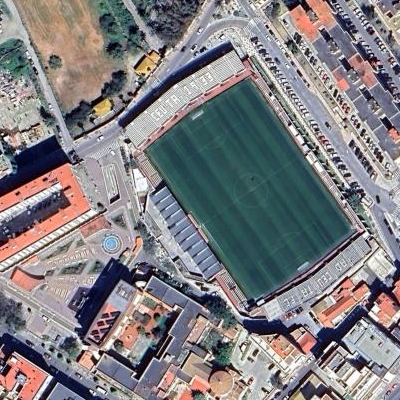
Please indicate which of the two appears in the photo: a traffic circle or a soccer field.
soccer field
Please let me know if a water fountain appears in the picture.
Yes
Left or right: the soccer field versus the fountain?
on the right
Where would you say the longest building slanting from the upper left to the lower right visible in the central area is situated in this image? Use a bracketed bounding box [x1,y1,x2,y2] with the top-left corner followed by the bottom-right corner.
[145,198,205,286]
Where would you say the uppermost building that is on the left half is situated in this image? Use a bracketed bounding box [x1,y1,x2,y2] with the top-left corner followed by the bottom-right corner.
[134,50,161,77]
